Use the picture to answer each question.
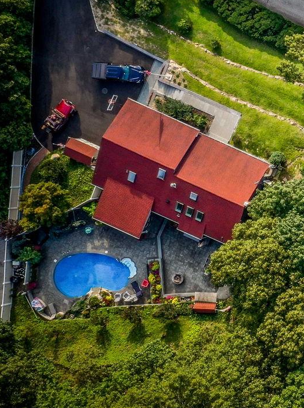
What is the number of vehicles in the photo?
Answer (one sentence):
My tally gives 2 vehicles in this view.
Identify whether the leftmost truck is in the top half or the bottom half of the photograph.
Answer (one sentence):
You can find the leftmost truck in the top half.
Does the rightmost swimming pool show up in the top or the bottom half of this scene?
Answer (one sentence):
Seen from above, the rightmost swimming pool lies in the bottom half of the view.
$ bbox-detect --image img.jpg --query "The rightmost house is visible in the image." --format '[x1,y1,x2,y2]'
[92,96,278,244]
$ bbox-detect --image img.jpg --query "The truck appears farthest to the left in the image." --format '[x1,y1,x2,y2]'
[35,94,78,139]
